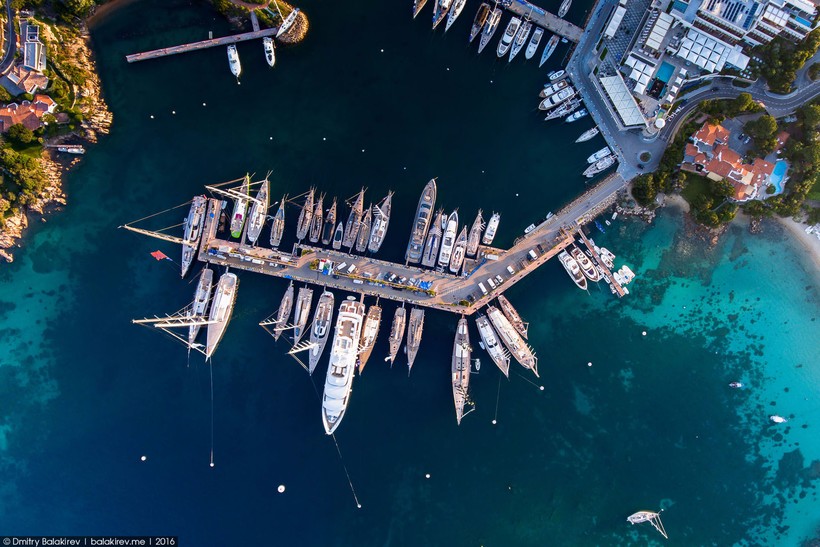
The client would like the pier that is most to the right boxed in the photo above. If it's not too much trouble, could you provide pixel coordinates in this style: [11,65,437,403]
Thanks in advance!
[577,228,628,299]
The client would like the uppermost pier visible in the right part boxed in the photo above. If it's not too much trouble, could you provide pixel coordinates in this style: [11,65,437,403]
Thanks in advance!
[485,0,583,43]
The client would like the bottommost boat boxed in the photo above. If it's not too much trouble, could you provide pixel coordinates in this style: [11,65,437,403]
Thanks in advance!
[627,511,669,538]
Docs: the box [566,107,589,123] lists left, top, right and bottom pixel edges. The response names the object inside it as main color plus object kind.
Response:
blue boat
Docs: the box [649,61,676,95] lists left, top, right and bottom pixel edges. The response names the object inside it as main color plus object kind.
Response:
blue swimming pool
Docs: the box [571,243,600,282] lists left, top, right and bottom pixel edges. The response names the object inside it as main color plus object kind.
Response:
white boat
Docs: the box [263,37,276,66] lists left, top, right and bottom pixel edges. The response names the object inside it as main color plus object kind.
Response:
white boat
